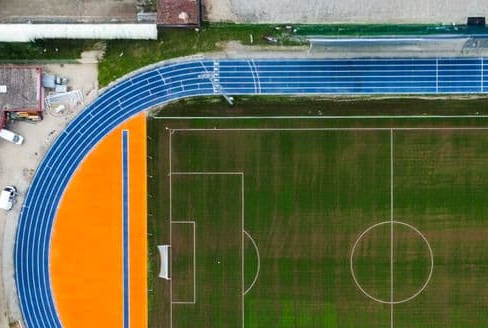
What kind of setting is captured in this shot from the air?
sports ground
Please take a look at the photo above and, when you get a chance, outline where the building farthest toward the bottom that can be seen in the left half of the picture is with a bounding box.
[0,66,43,127]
